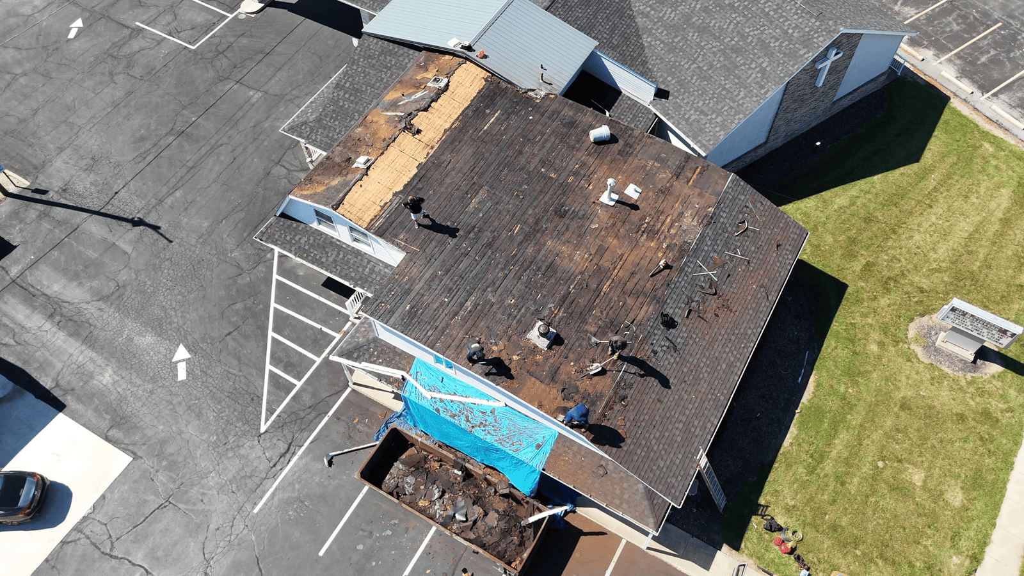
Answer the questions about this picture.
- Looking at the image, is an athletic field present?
No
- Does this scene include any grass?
Yes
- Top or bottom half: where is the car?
bottom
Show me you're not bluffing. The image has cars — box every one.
[0,465,54,530]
